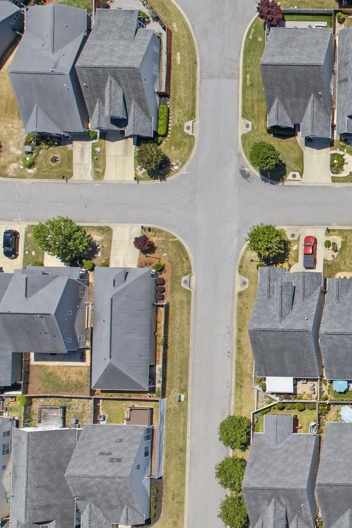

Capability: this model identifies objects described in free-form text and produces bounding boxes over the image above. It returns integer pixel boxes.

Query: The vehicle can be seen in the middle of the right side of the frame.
[303,236,317,270]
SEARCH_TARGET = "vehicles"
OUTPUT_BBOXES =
[4,233,20,257]
[303,236,317,270]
